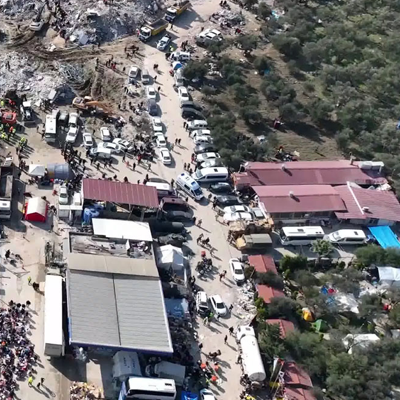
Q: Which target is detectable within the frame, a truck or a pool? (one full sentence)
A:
There is a truck in the scene.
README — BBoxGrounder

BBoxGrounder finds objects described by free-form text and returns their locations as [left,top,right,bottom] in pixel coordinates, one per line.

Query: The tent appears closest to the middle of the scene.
[159,244,184,276]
